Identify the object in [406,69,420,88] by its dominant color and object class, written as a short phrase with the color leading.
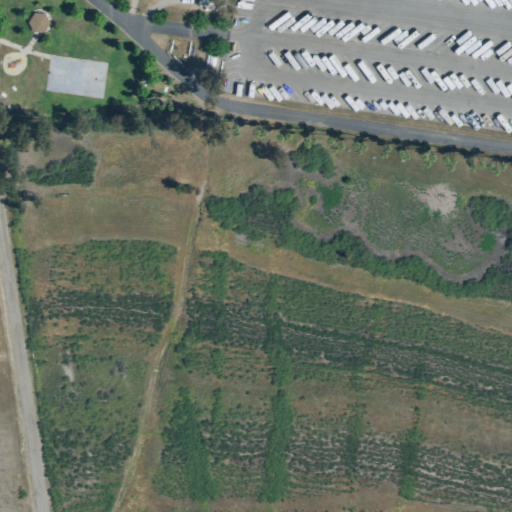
white camper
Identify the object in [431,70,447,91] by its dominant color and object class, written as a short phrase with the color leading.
white camper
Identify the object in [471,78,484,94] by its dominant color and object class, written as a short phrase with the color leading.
white vehicle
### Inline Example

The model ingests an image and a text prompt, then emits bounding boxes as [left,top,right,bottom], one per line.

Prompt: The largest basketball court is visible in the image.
[47,56,108,98]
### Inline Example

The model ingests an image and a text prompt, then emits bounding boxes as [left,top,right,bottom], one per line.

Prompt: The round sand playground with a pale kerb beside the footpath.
[2,52,28,76]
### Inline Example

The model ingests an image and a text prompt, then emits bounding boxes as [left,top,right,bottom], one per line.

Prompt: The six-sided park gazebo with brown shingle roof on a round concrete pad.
[29,10,53,33]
